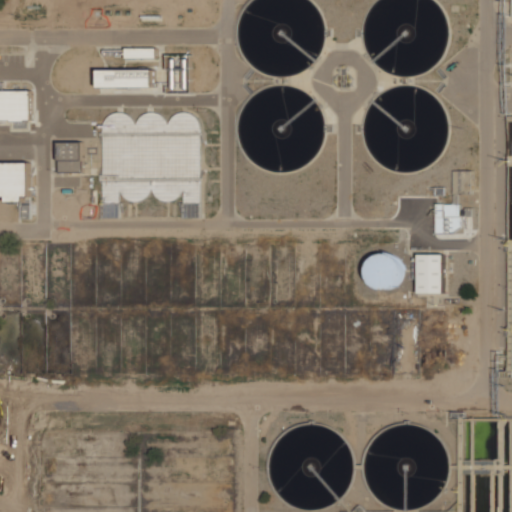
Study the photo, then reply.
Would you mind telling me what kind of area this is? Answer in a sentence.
What you see here is an industrial area.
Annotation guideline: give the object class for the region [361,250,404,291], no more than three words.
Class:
storage tank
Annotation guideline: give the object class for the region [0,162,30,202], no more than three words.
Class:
building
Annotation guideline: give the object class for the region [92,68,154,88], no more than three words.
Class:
building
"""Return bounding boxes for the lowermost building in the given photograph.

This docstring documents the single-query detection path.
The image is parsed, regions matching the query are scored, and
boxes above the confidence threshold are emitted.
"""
[415,254,444,294]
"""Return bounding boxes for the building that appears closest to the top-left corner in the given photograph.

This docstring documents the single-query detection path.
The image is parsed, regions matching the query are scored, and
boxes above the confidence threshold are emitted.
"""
[0,90,32,128]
